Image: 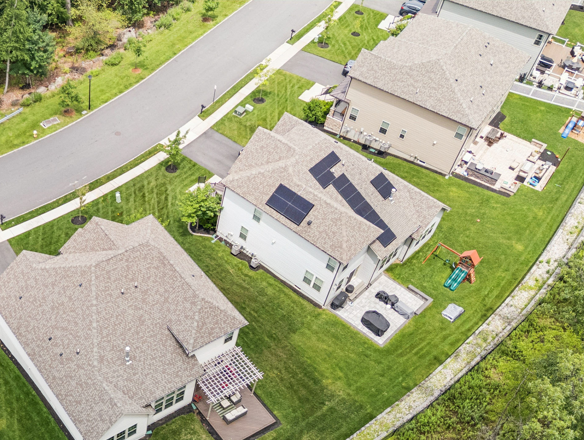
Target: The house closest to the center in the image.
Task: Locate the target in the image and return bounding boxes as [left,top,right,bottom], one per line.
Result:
[205,114,459,306]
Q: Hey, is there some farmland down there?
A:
No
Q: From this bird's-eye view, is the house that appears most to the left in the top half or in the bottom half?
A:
bottom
